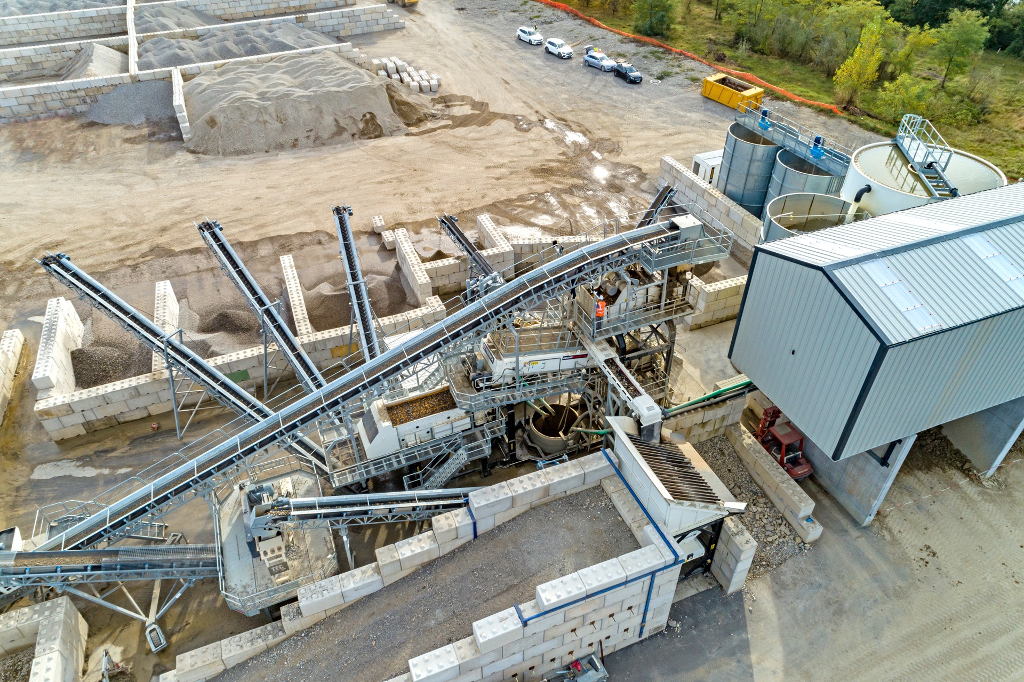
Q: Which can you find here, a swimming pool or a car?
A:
car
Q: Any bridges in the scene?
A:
Yes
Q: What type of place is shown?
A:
industrial area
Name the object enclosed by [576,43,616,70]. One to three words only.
car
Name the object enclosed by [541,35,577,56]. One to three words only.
car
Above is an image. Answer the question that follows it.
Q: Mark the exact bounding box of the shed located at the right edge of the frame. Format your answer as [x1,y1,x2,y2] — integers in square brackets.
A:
[727,183,1024,527]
